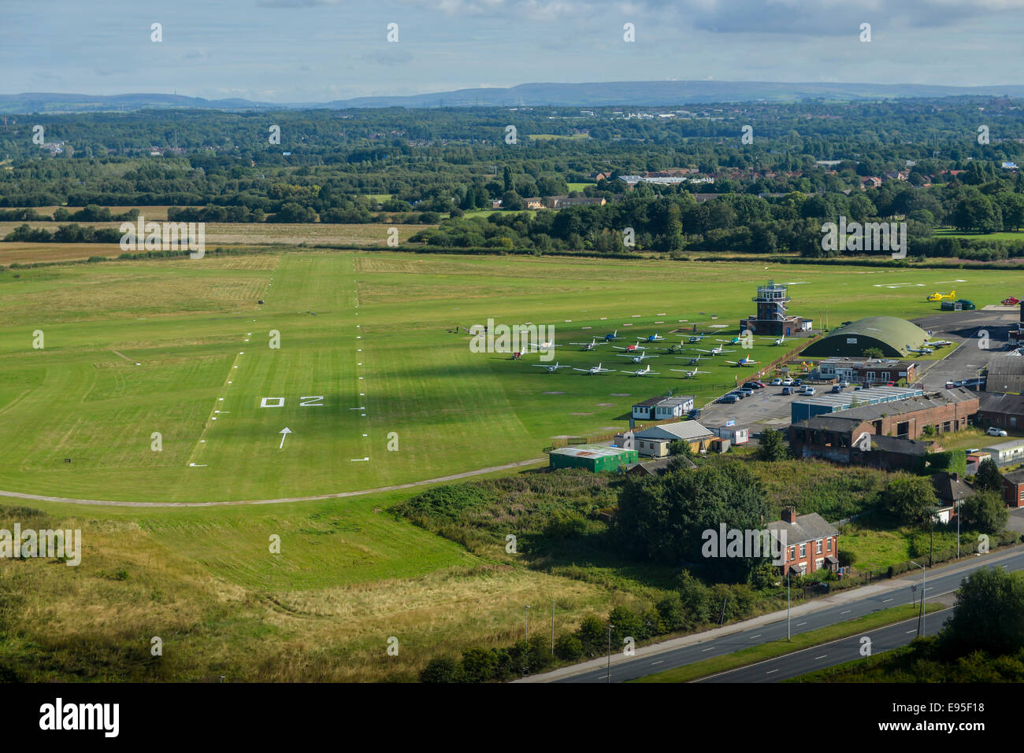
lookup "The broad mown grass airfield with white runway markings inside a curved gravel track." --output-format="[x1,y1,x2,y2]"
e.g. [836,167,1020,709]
[0,252,1024,507]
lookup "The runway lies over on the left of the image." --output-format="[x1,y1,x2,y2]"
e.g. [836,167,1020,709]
[187,256,376,470]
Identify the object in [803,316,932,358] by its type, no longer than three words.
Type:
hangar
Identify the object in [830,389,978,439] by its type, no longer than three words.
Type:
building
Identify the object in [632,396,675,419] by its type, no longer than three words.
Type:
building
